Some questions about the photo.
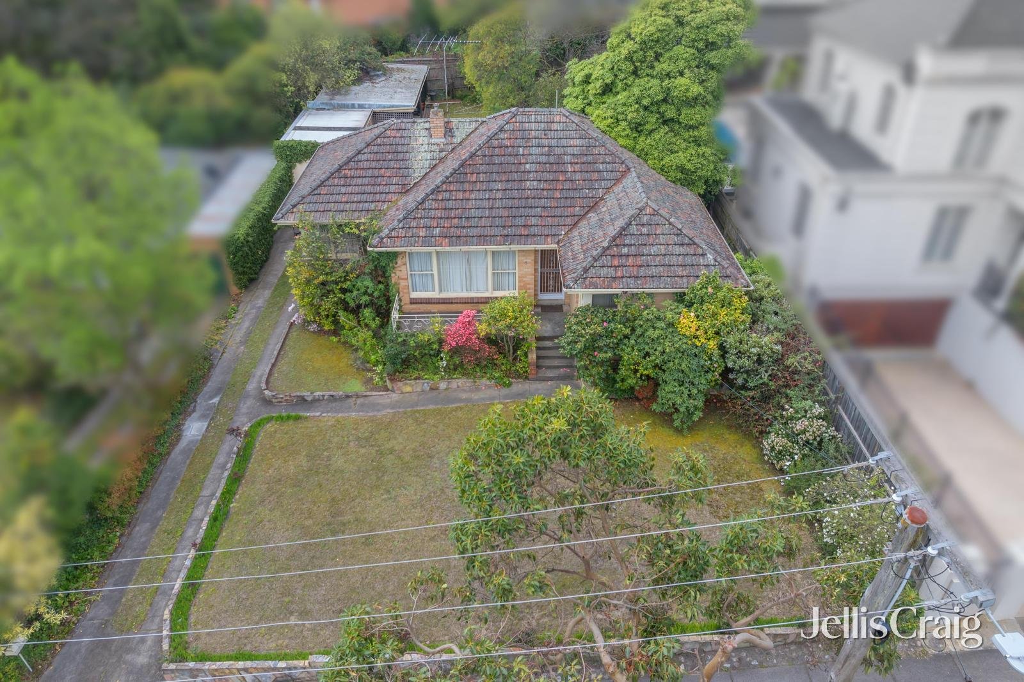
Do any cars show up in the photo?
No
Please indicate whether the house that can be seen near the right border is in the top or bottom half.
top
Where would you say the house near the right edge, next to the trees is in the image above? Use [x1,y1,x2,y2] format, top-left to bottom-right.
[740,0,1024,342]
